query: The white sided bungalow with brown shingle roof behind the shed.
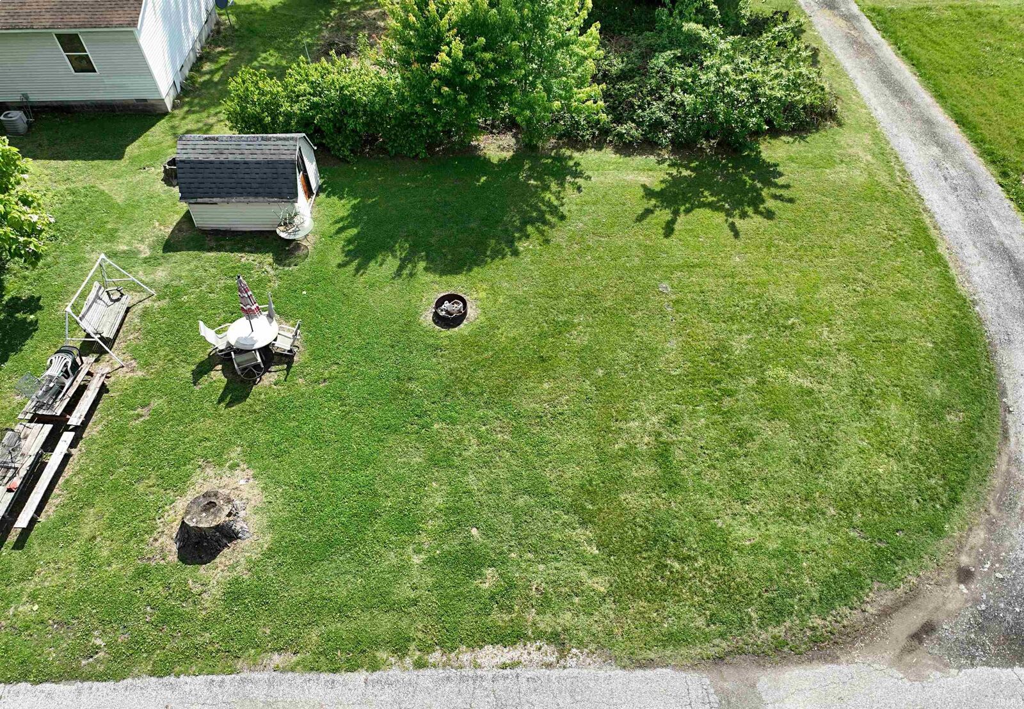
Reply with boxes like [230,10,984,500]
[0,0,218,120]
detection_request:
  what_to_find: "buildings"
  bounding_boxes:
[175,136,319,229]
[0,0,218,120]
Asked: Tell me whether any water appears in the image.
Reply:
No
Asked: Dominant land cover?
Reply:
grass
